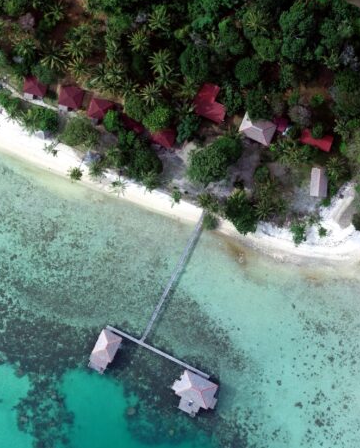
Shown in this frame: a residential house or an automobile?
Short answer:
residential house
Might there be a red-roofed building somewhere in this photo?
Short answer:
Yes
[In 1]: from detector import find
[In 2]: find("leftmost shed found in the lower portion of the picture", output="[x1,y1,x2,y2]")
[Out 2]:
[88,329,123,376]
